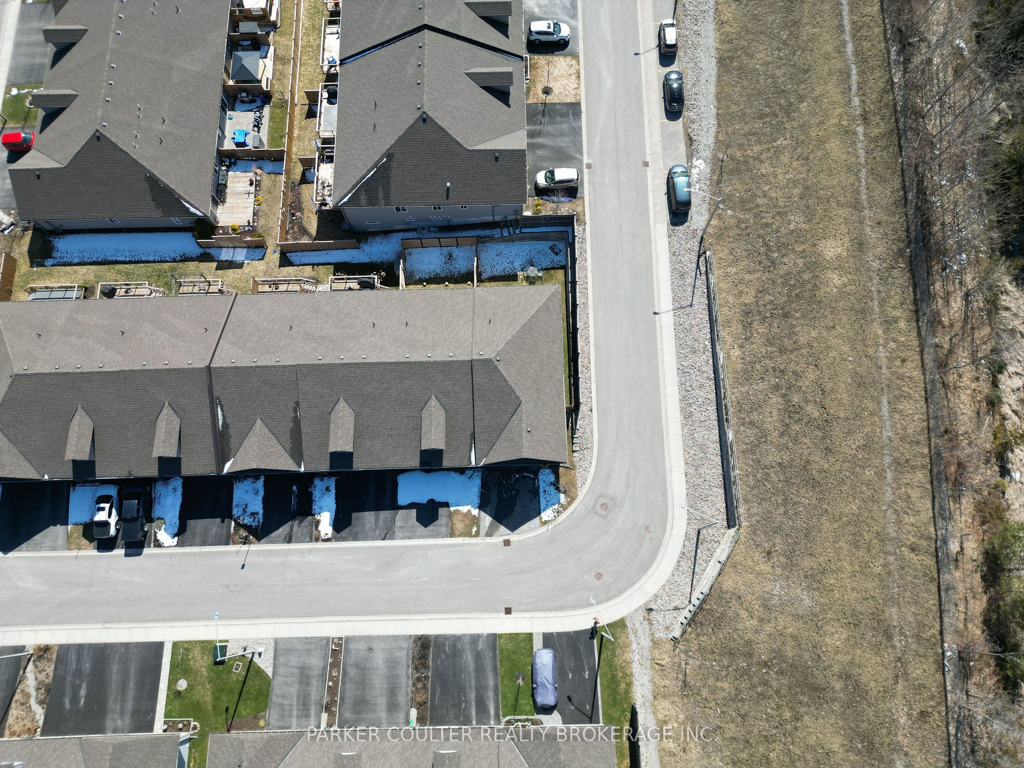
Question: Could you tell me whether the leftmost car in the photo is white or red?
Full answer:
In this view, the leftmost car is red.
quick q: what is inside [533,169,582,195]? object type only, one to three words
car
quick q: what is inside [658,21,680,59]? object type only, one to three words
car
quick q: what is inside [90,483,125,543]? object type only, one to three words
truck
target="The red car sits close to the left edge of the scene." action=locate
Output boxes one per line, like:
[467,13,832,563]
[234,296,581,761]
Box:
[0,129,36,155]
